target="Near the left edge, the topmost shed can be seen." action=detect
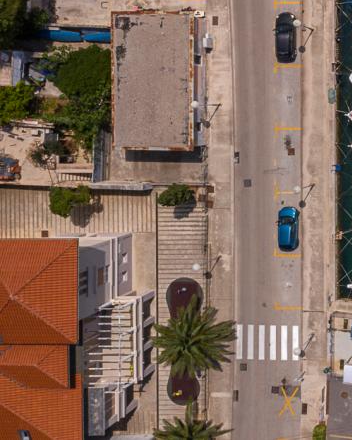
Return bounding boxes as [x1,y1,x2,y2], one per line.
[12,51,41,86]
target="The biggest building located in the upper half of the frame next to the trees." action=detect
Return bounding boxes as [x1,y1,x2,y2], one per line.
[112,12,211,151]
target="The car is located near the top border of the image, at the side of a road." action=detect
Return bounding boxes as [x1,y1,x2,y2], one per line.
[272,13,297,63]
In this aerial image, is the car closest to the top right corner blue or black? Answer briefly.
black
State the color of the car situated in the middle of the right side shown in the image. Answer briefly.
blue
